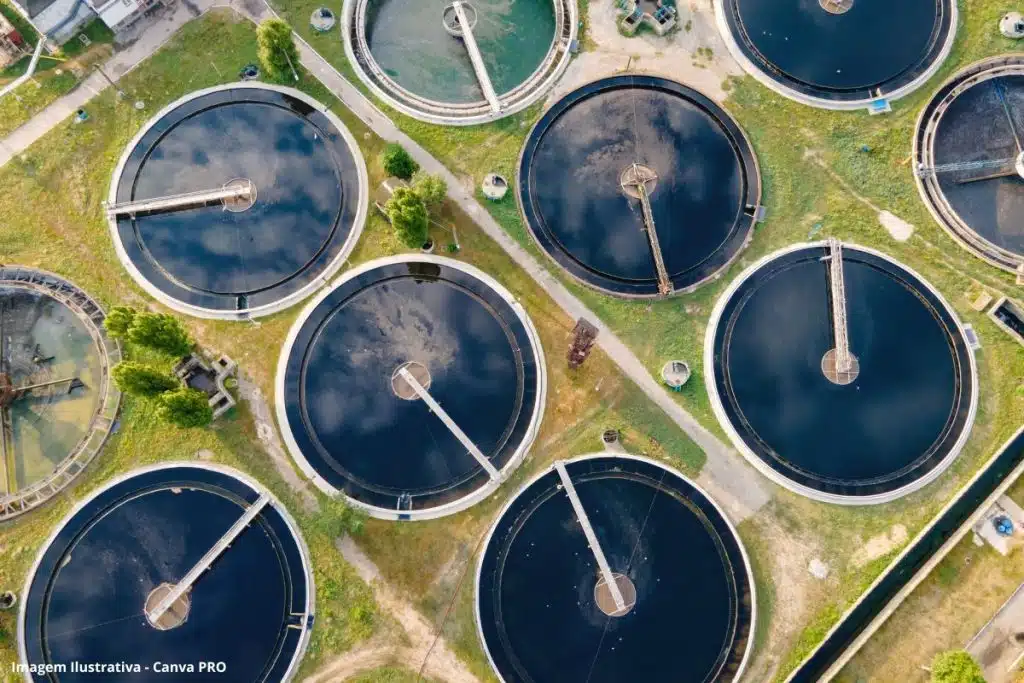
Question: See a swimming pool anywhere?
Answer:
No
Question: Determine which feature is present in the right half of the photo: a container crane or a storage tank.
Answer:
storage tank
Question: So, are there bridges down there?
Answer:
Yes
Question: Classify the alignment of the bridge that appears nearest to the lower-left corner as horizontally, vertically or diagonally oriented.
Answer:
diagonally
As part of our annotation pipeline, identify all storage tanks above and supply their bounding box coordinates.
[704,237,979,506]
[910,52,1024,291]
[274,253,548,520]
[516,73,762,300]
[0,266,123,522]
[711,0,958,109]
[17,462,317,683]
[475,453,757,683]
[106,81,368,320]
[344,0,576,125]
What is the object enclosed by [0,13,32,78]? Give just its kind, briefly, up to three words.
building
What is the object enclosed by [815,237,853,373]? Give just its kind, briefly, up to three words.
bridge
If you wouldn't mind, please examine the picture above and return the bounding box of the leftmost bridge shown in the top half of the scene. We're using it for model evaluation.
[106,182,254,219]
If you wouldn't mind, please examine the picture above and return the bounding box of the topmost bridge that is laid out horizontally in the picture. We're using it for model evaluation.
[913,156,1022,177]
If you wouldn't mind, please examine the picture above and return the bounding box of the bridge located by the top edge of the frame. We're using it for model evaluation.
[452,2,503,117]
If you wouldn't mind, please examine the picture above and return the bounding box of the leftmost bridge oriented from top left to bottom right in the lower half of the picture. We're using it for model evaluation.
[399,366,504,486]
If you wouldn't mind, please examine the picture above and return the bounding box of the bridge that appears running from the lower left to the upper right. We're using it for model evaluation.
[146,491,276,623]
